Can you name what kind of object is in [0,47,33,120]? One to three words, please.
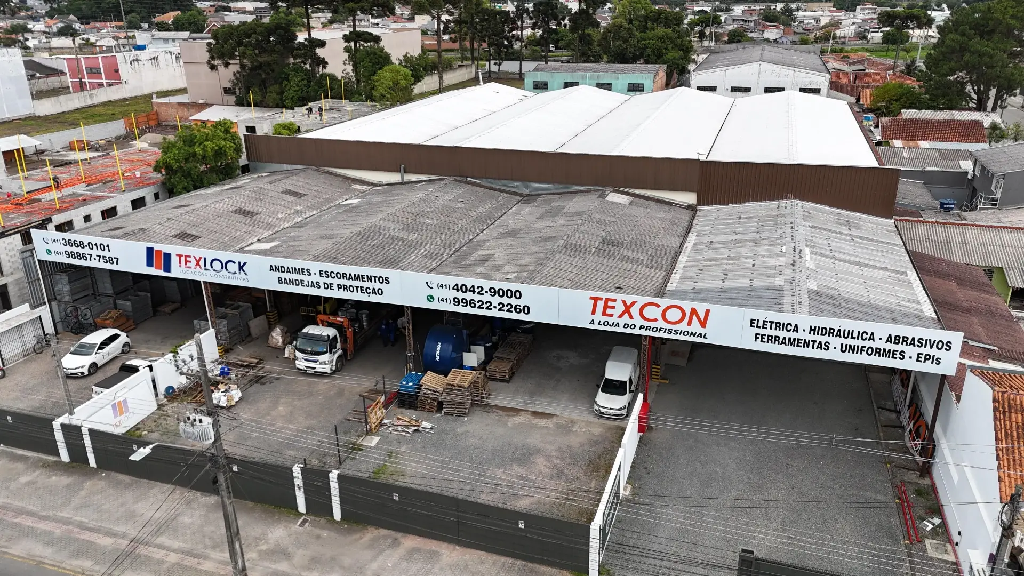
building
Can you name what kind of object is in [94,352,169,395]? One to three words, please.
truck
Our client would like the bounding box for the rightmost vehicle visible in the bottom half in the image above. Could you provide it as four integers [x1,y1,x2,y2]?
[591,348,637,416]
